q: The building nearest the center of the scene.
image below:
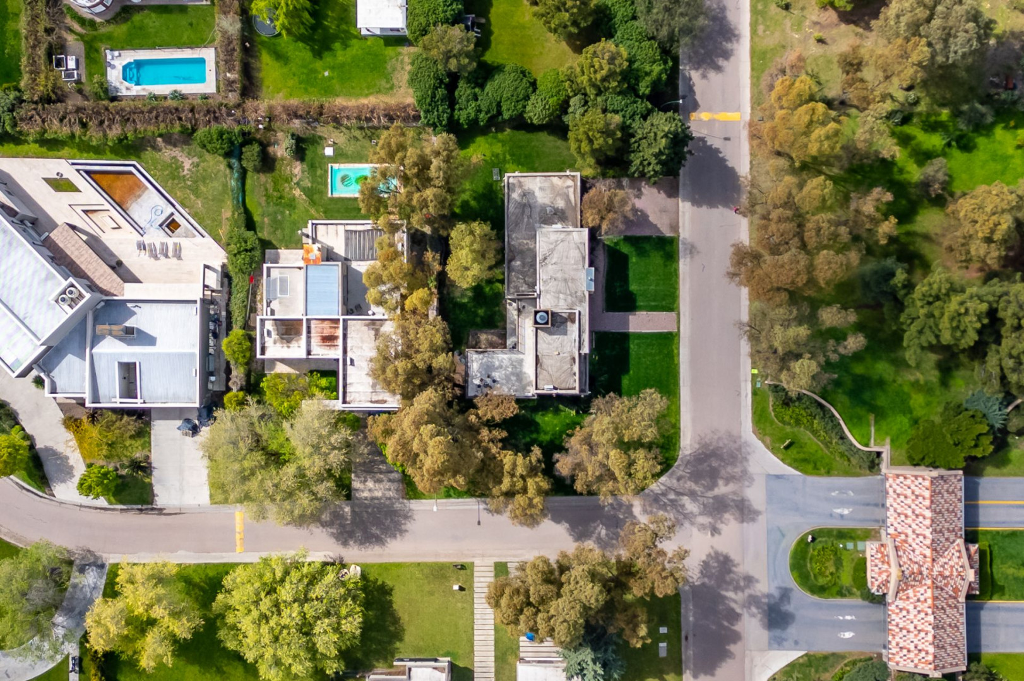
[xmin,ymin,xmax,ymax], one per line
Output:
[466,169,594,398]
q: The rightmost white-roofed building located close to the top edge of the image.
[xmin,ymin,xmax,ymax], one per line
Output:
[357,0,409,42]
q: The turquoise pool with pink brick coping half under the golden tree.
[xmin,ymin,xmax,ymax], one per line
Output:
[329,164,394,197]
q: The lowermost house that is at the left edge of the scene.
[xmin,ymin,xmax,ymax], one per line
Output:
[0,176,211,407]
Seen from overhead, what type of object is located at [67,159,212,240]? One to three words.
swimming pool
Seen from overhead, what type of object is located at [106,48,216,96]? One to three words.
swimming pool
